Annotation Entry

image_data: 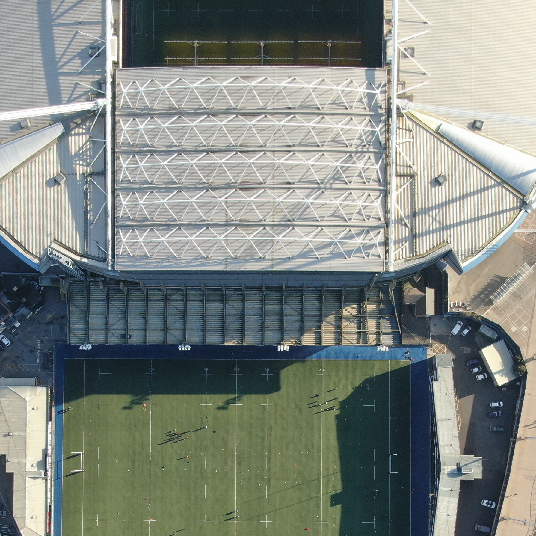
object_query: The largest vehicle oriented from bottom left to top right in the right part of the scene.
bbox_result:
[451,321,463,336]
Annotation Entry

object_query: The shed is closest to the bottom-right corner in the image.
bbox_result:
[476,341,520,387]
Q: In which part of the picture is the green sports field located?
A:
bottom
